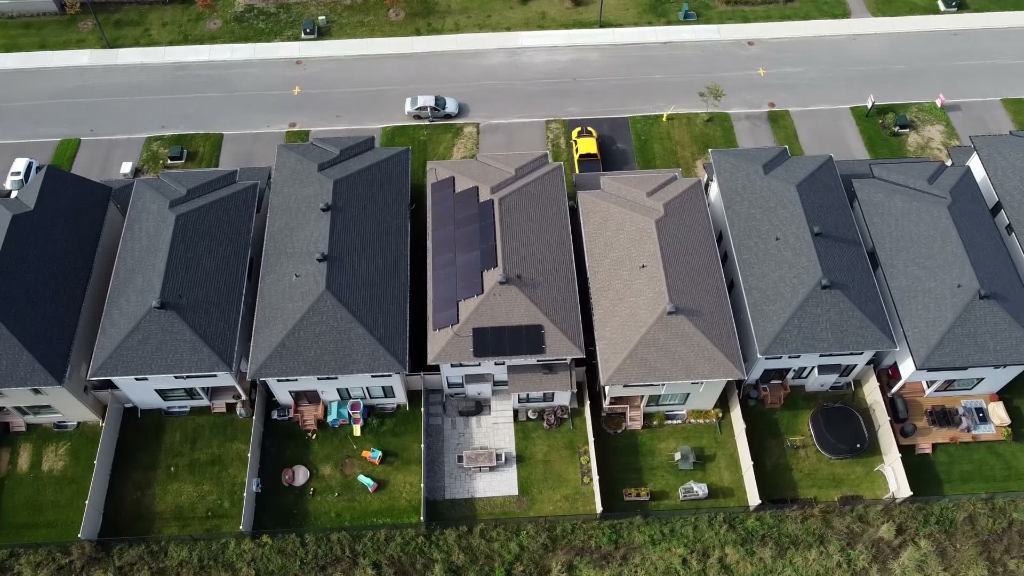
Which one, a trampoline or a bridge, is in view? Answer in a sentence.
It is a trampoline that can be seen here.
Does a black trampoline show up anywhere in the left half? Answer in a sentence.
No, no black trampoline can be made out in the left half.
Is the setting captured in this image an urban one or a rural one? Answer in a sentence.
The area shown here is urban.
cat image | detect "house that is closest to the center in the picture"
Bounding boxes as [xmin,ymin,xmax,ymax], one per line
[426,151,585,411]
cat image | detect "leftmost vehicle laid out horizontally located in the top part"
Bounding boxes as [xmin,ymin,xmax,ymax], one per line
[405,95,458,121]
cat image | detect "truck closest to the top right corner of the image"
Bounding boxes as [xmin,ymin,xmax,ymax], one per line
[571,127,603,174]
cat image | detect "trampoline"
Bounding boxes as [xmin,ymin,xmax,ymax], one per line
[805,405,872,462]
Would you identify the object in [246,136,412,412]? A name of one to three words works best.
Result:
house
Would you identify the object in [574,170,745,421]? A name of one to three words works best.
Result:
house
